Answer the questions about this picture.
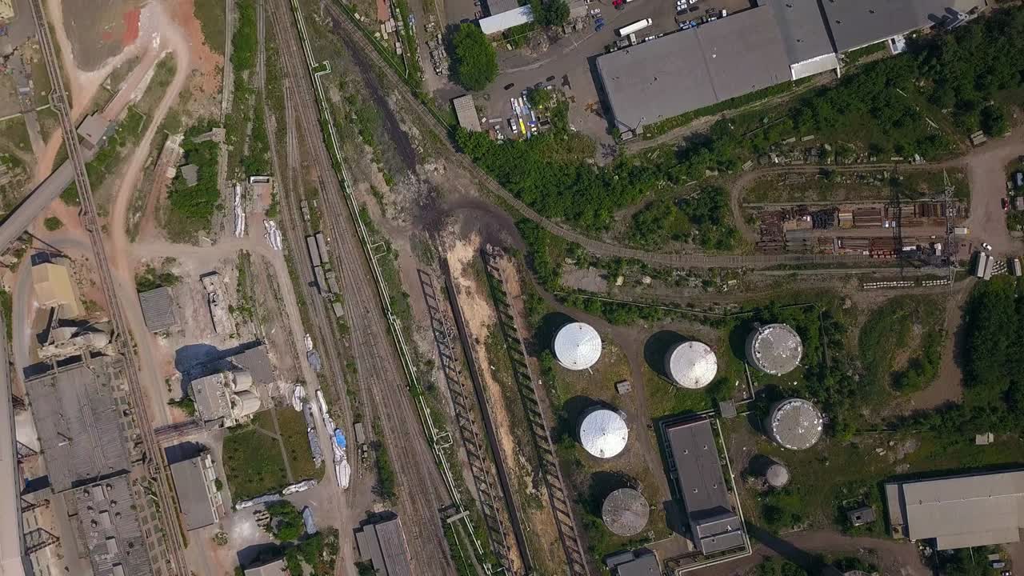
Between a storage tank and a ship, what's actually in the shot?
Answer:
storage tank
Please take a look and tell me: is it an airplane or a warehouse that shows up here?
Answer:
warehouse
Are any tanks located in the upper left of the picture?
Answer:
No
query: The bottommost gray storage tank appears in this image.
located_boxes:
[600,481,650,536]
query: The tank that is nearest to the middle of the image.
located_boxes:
[553,321,605,374]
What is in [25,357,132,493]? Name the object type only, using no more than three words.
building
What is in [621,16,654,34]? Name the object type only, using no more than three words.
vehicle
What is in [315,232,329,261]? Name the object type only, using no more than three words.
rail car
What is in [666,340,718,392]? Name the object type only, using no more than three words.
storage tank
